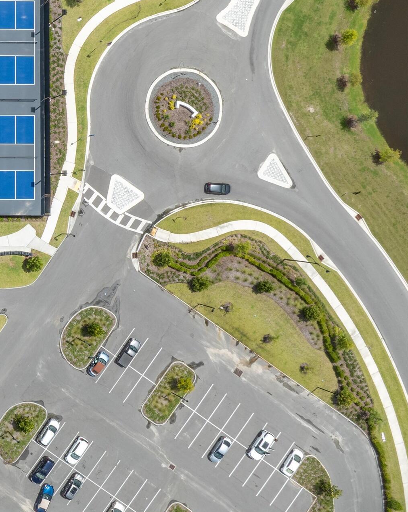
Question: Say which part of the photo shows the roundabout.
top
